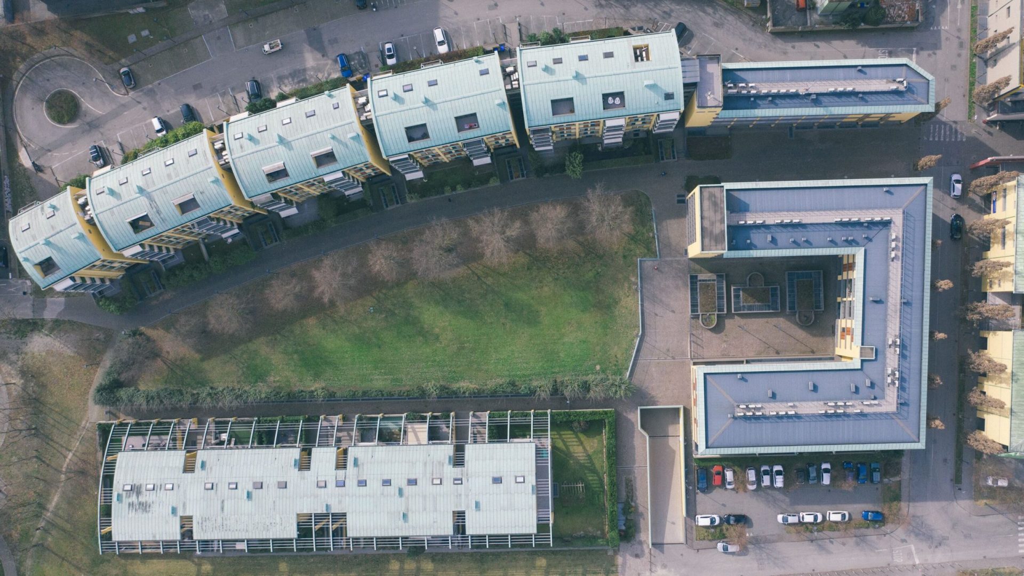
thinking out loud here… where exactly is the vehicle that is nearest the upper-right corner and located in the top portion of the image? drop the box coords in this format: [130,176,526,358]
[948,173,964,199]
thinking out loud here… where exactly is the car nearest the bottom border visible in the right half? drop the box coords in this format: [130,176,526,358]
[716,541,740,554]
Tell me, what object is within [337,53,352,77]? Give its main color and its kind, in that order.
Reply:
blue car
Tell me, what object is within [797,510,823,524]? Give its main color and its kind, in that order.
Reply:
white car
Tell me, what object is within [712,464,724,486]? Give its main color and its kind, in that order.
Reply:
red vehicle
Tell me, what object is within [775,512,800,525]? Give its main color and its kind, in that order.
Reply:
white vehicle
